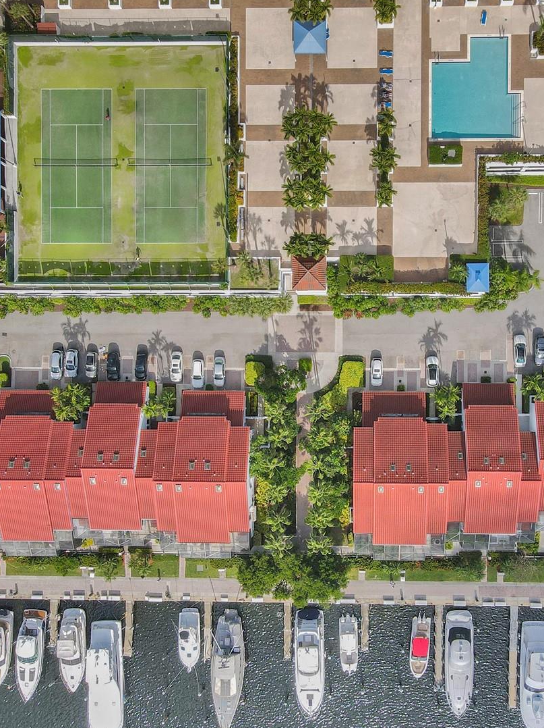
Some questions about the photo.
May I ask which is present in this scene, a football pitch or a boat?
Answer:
boat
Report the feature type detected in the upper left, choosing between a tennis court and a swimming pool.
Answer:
tennis court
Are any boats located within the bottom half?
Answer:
Yes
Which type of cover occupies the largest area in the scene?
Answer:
buildings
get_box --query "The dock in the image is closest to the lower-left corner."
[45,601,63,650]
